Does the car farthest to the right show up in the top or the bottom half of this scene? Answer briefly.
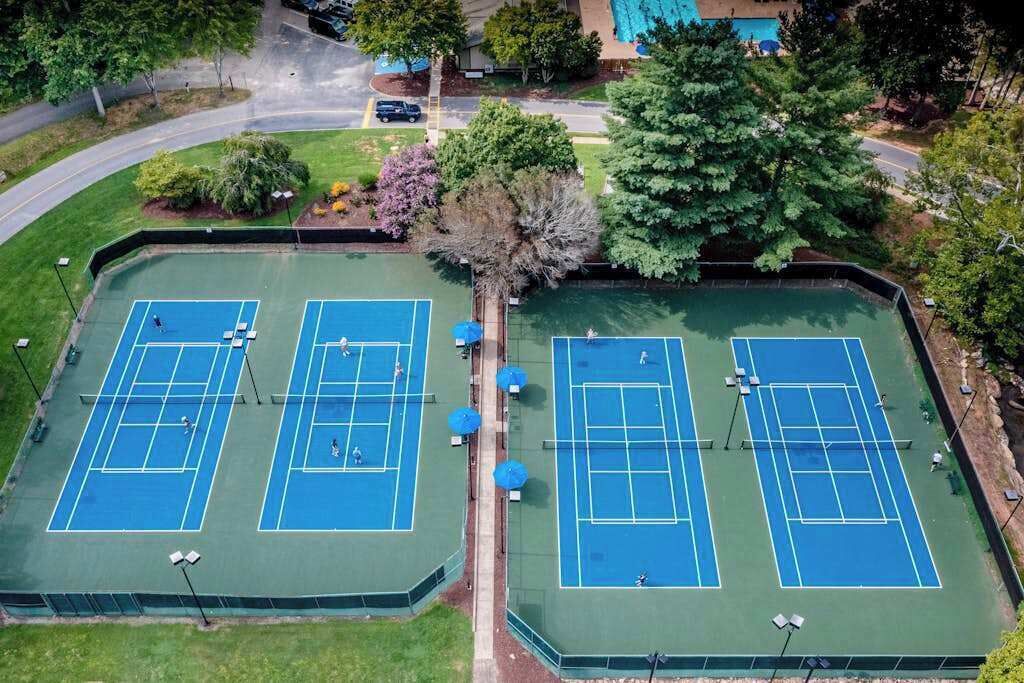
top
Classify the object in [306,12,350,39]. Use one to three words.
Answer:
vehicle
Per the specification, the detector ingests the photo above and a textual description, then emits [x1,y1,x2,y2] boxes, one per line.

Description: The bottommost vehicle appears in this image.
[375,99,420,123]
